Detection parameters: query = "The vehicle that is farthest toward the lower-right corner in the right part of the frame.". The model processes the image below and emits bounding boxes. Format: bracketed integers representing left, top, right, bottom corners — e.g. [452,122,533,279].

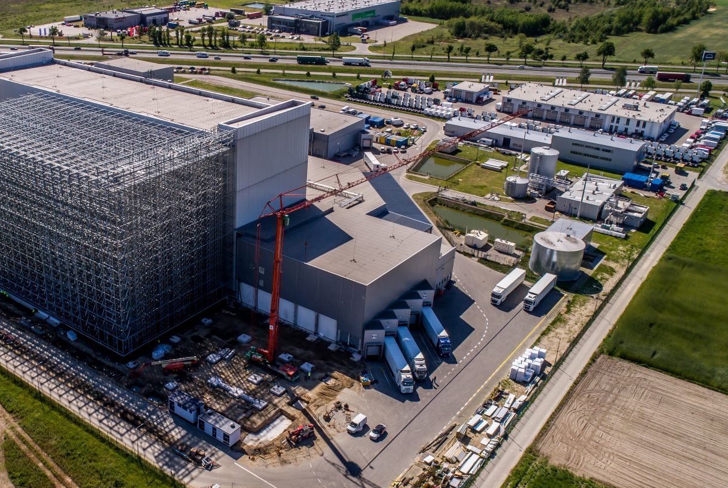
[522,275,557,312]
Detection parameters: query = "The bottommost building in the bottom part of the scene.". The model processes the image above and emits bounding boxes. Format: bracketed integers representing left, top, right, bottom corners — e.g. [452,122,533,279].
[198,408,242,447]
